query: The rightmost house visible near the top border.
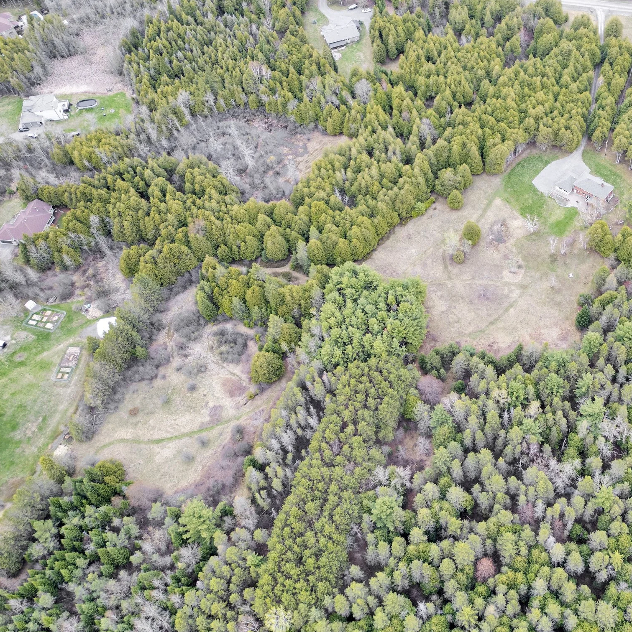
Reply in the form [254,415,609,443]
[322,16,360,52]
